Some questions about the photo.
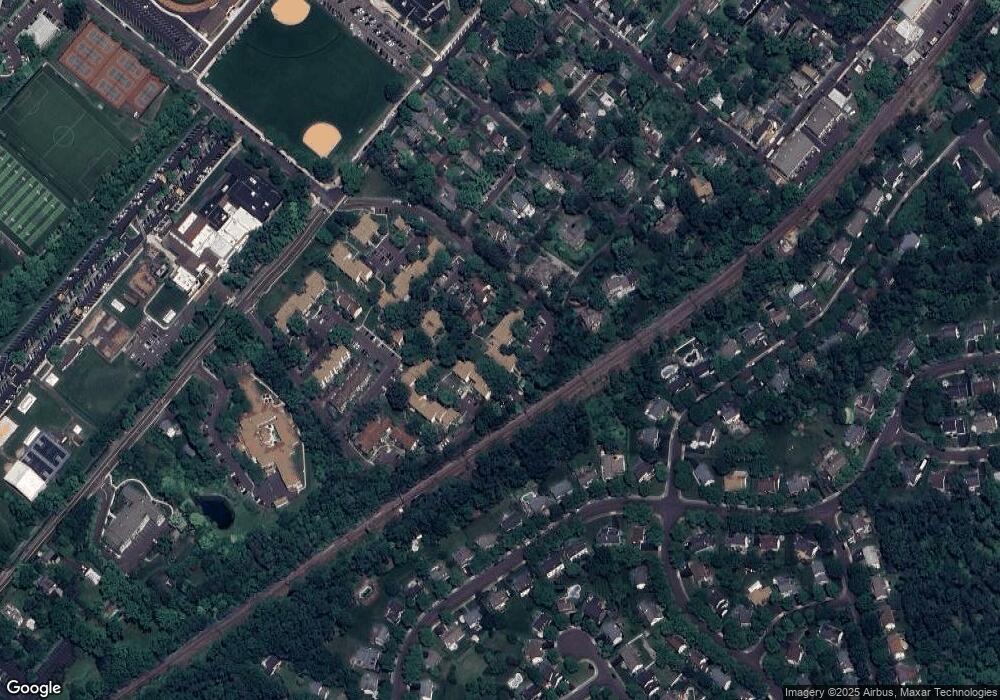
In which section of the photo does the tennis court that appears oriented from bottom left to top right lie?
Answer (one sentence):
The tennis court that appears oriented from bottom left to top right appears toward the top left of the photo.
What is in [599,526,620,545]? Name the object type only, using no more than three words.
house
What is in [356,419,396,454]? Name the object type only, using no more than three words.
building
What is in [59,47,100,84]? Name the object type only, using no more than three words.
tennis court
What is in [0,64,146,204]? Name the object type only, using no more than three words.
soccer field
